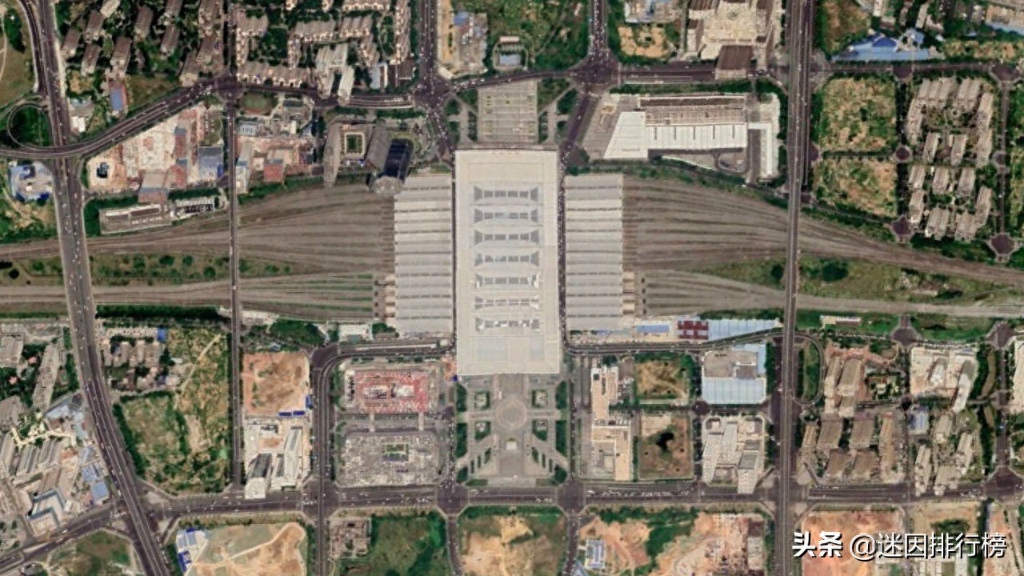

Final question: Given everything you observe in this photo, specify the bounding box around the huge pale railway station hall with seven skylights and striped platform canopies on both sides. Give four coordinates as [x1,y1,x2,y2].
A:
[376,150,645,374]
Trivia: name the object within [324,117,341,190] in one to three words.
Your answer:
building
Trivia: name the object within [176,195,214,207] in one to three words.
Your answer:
building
